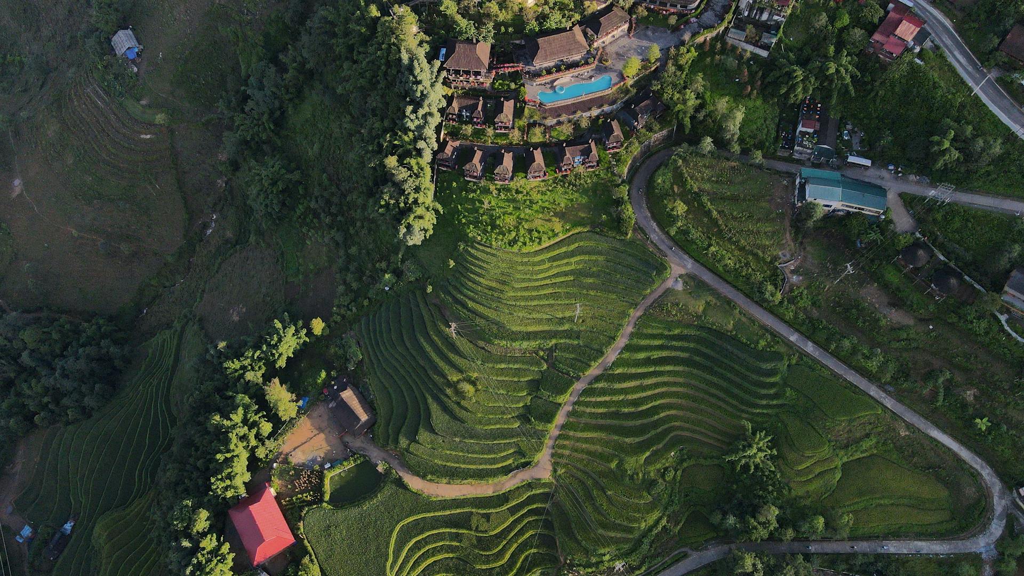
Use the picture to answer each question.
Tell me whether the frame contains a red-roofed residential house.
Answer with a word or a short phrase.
Yes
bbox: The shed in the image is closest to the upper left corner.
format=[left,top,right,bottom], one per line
[111,29,139,60]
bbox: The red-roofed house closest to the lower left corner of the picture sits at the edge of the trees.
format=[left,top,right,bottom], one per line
[228,478,298,567]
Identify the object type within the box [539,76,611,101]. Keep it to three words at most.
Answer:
swimming pool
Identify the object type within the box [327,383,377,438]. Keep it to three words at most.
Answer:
shed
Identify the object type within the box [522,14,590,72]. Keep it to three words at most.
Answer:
building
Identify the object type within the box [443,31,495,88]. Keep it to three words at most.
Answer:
building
